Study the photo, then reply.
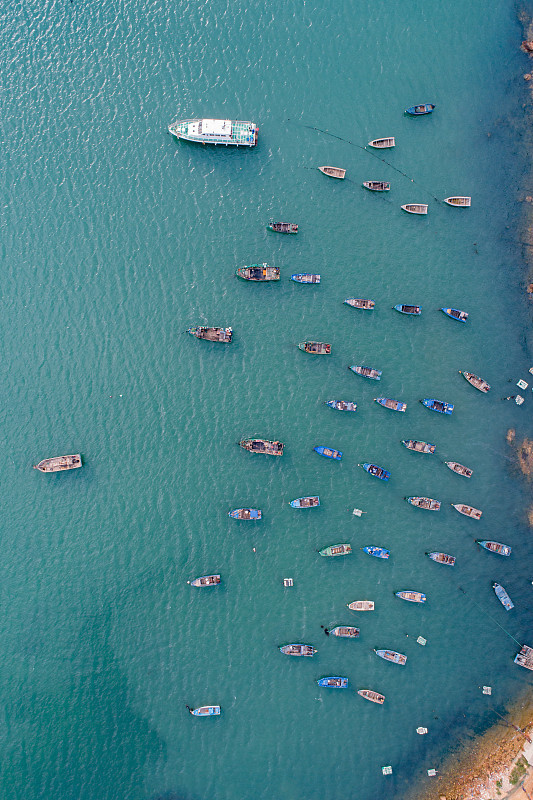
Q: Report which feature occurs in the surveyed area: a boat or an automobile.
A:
boat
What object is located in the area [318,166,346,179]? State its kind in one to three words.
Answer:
boat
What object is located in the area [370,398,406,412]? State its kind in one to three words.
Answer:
boat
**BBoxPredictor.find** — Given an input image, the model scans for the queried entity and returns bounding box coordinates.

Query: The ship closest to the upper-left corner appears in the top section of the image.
[168,118,257,149]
